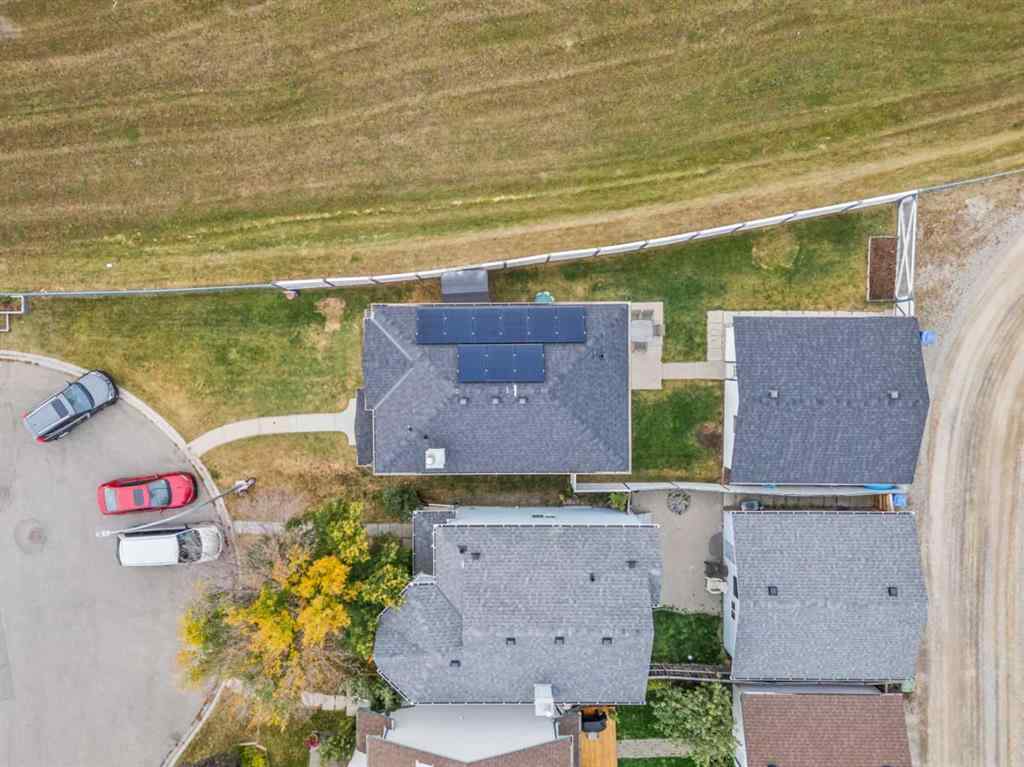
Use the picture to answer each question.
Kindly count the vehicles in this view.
three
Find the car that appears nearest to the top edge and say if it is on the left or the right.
left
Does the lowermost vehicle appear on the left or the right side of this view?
left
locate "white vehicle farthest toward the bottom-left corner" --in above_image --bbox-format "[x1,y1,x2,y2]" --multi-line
[118,522,223,569]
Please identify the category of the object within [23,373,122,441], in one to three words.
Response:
car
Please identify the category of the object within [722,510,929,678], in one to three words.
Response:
building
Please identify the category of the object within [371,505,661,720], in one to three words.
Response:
house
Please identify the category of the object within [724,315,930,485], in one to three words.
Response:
building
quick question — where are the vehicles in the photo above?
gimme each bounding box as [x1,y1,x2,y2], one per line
[23,373,122,441]
[100,471,200,517]
[118,522,223,569]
